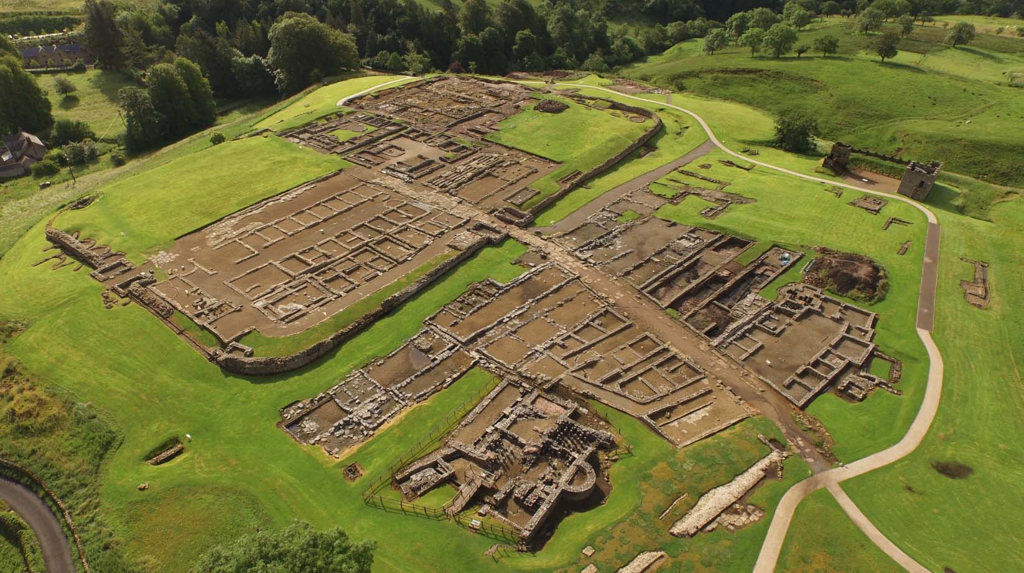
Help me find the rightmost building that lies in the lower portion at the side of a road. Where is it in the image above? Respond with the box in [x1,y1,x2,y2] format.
[732,280,878,412]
